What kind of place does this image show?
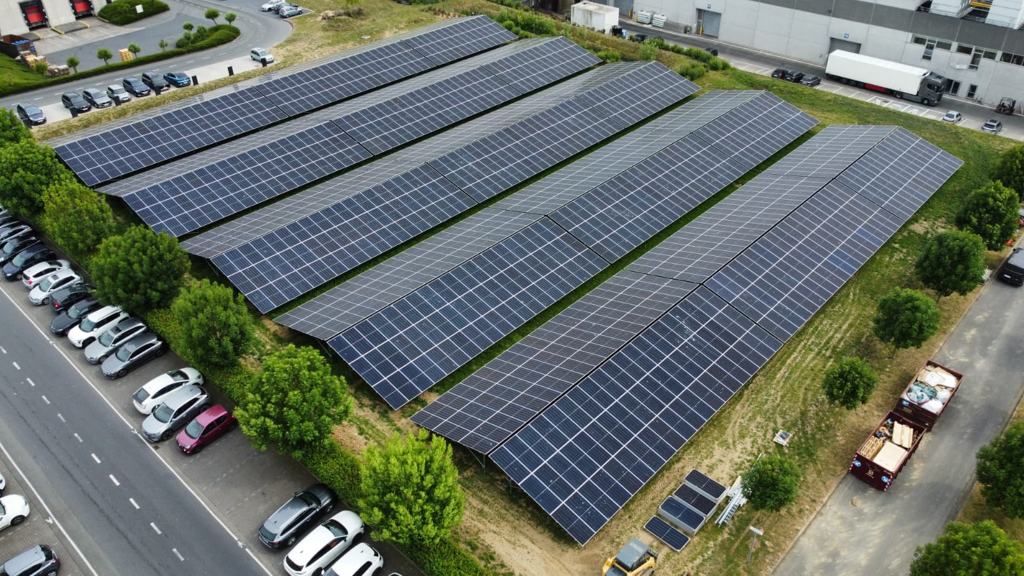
solar farm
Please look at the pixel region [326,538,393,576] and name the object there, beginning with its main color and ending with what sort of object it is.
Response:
white car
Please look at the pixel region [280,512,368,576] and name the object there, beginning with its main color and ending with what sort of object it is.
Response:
white car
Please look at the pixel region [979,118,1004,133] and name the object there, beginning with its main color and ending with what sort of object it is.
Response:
gray car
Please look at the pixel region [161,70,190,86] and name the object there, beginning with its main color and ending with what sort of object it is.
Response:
blue car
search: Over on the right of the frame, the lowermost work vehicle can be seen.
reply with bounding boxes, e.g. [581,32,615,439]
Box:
[601,538,662,576]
